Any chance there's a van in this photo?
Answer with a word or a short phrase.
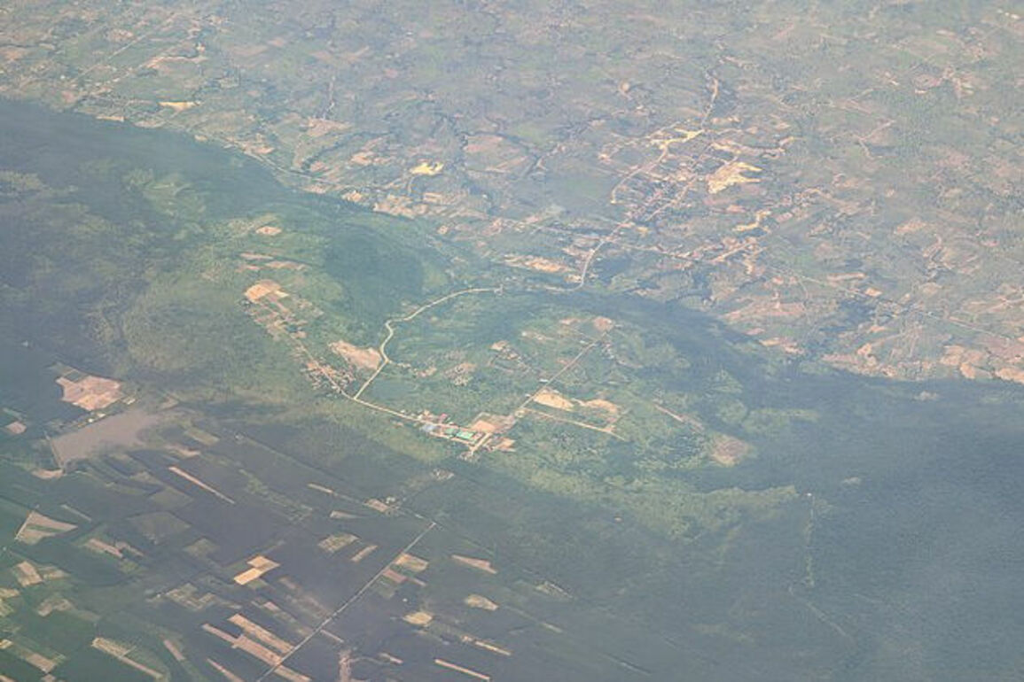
No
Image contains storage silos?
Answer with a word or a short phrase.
No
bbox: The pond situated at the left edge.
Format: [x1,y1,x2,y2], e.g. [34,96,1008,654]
[50,409,161,469]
